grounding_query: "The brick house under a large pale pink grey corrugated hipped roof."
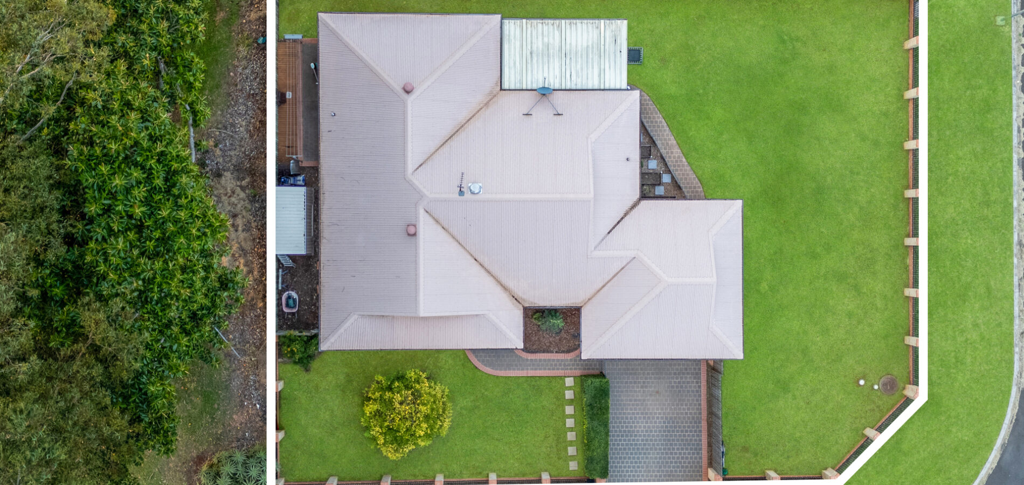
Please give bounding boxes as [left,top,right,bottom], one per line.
[317,12,744,360]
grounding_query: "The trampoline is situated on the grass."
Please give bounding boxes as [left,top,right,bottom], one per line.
[628,47,643,66]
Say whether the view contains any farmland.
No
